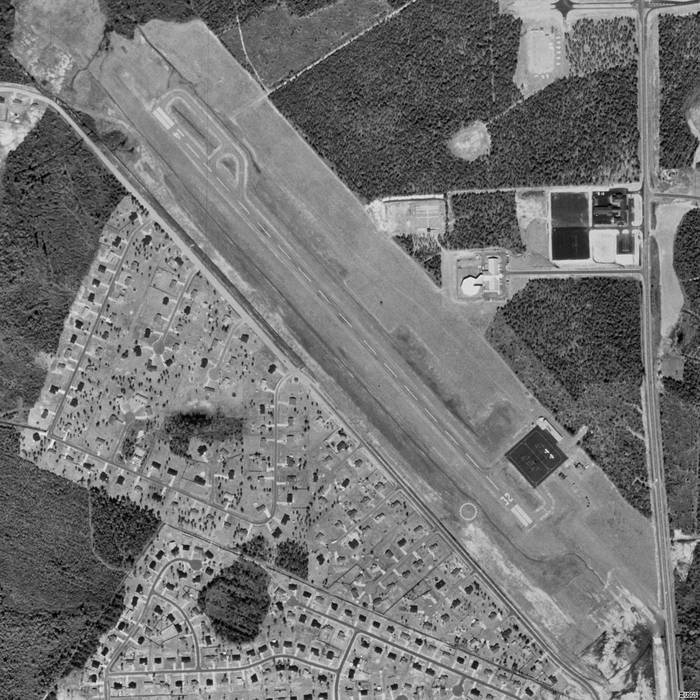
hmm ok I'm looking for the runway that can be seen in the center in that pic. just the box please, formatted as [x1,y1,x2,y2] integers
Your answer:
[149,103,540,535]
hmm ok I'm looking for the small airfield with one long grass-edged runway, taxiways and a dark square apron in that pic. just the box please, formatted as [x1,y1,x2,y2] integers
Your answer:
[149,89,569,535]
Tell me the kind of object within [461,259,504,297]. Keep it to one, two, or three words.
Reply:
building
